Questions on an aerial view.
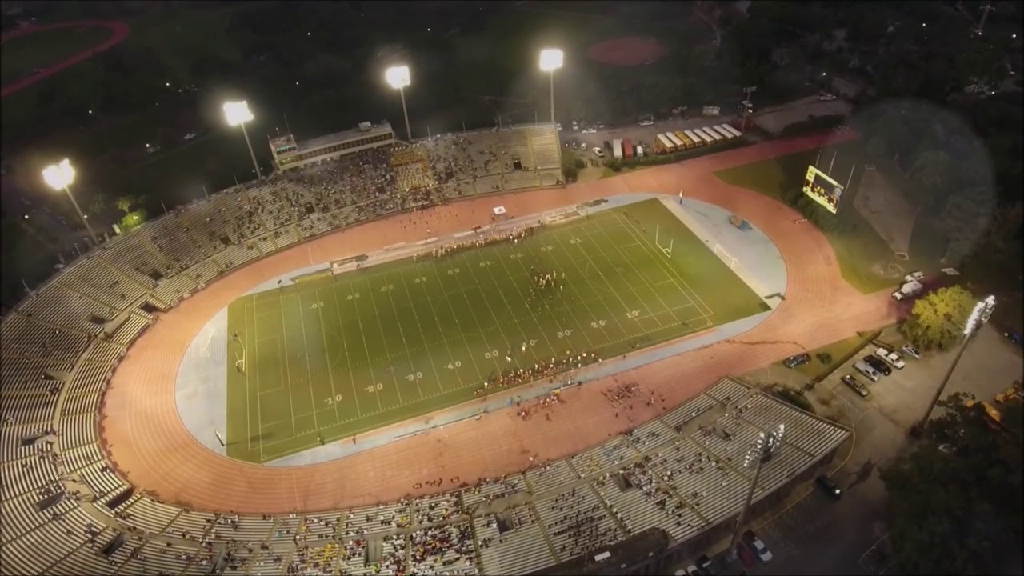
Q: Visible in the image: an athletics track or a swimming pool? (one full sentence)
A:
This aerial view contains an athletics track.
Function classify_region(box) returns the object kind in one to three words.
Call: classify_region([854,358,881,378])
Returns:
vehicle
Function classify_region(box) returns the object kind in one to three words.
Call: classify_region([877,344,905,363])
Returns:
vehicle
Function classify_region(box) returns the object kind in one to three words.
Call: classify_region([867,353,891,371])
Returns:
car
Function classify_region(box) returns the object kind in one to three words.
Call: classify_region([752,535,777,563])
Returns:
car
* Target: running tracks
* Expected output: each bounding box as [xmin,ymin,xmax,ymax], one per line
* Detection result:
[97,126,960,523]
